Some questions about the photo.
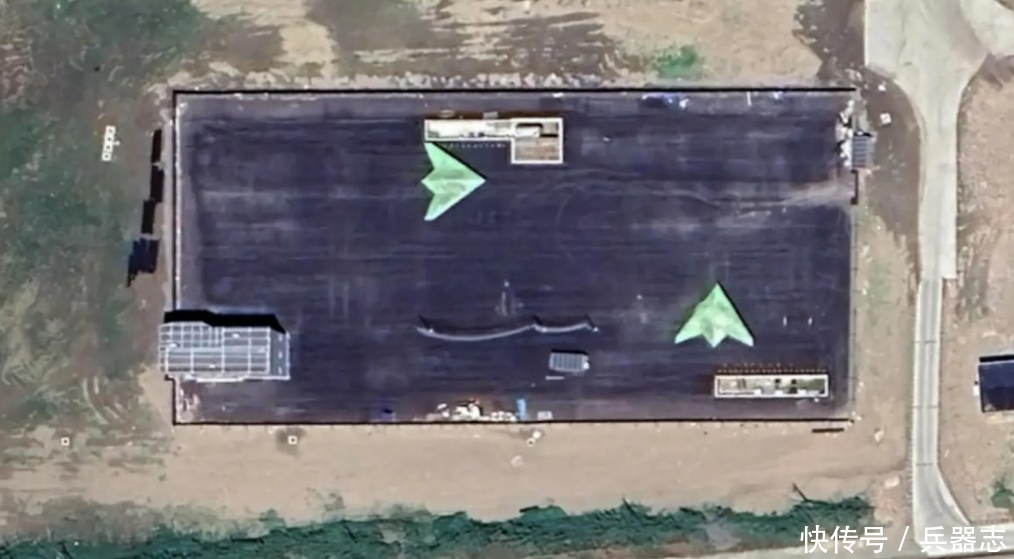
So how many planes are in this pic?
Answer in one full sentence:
I count 2 planes.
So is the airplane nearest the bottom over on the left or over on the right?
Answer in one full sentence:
The airplane nearest the bottom is on the right side of the image.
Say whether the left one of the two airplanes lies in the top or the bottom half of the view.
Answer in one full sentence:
The left one of the two airplanes is in the top half of the image.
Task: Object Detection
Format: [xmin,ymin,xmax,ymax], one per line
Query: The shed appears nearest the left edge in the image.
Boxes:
[160,322,288,382]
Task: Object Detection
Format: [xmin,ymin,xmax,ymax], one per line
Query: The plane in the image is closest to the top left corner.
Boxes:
[422,143,486,219]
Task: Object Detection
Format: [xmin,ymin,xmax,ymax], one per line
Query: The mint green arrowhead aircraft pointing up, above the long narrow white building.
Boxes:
[677,283,753,347]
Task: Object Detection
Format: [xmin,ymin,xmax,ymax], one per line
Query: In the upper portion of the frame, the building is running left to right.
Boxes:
[424,119,566,165]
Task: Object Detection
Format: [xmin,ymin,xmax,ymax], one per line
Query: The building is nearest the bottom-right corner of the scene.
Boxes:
[978,361,1014,414]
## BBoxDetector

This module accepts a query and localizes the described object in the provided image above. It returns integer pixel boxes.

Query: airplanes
[677,283,753,347]
[422,143,486,219]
